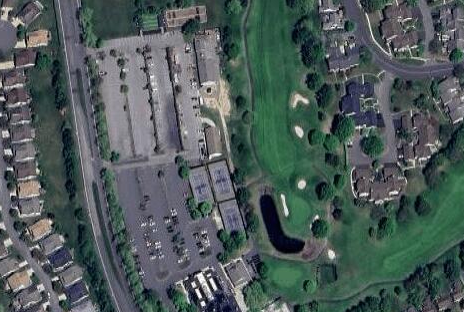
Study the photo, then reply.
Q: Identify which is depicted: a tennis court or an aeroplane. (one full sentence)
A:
I can see a tennis court in this picture.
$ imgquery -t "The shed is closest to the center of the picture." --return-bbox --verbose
[205,122,222,158]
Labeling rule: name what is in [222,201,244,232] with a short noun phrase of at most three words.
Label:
tennis court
